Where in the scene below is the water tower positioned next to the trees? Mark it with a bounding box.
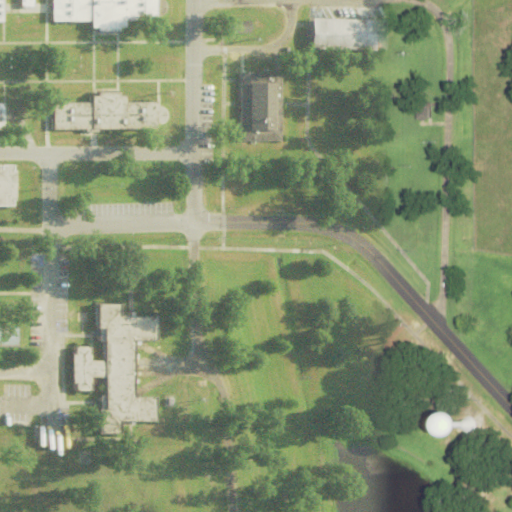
[430,416,478,444]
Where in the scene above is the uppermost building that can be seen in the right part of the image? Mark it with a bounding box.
[314,18,381,50]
